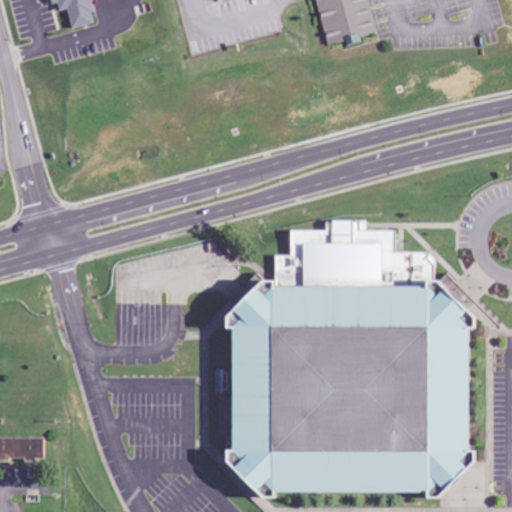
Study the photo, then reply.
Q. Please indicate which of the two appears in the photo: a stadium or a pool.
stadium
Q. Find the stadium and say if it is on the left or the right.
right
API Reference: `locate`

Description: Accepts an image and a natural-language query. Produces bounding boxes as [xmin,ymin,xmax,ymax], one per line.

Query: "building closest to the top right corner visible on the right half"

[316,0,378,48]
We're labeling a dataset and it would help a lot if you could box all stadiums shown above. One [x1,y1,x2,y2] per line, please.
[226,281,478,500]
